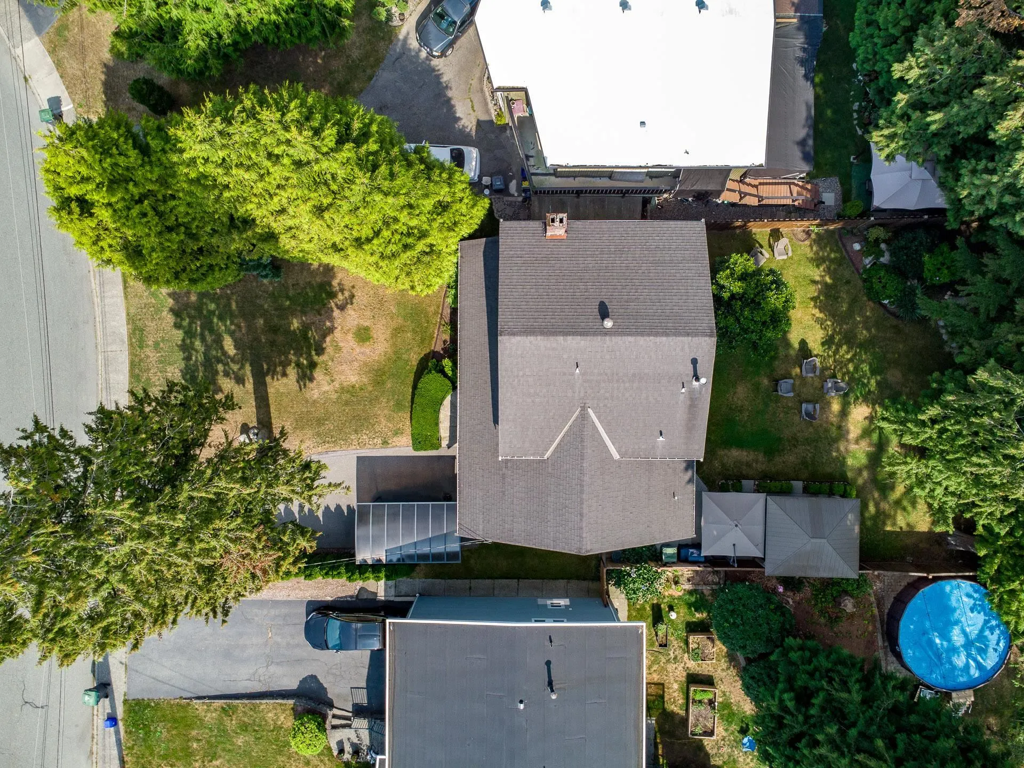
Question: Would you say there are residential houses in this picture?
Yes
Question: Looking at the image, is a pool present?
Yes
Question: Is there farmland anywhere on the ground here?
No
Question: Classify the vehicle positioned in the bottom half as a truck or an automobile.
automobile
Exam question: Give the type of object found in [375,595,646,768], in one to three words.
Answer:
house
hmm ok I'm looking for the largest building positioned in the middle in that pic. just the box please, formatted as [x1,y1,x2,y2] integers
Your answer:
[456,213,716,553]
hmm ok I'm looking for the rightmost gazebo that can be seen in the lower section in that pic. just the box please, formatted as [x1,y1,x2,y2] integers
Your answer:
[753,490,861,579]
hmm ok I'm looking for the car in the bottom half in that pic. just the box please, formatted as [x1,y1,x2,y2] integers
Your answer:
[308,608,404,658]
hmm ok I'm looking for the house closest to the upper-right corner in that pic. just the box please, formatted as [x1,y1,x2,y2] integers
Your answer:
[473,0,823,206]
